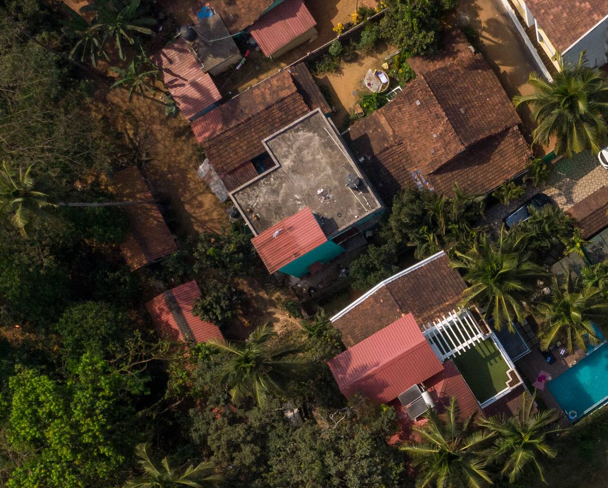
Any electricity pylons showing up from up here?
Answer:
No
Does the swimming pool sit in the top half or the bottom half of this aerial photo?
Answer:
bottom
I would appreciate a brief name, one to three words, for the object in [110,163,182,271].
shed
